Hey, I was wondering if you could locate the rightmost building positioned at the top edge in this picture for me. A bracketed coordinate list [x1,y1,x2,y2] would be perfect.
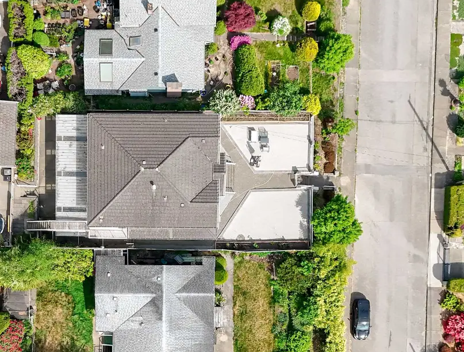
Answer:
[82,0,217,106]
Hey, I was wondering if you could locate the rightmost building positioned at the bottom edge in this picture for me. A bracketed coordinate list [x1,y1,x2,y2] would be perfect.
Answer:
[95,251,222,352]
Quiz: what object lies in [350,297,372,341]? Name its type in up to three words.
car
